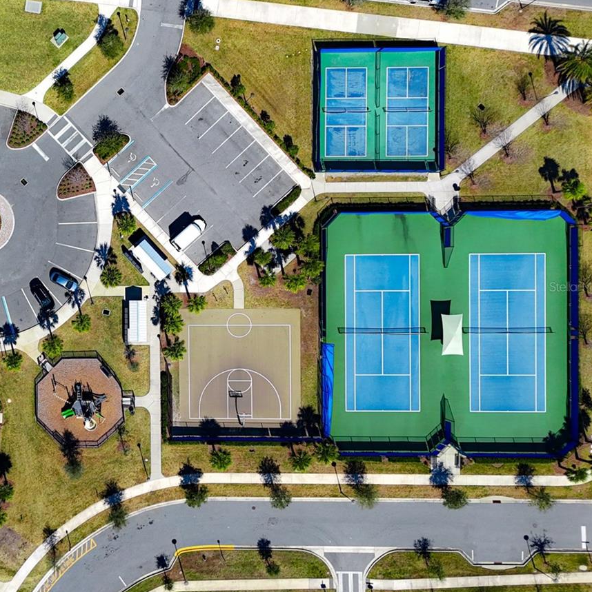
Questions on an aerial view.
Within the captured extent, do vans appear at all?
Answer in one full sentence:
Yes, there is a van in the image.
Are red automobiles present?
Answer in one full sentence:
No, there is no red automobile in the image.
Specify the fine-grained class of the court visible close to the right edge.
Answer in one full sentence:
The court visible close to the right edge can be classified as a tennis court.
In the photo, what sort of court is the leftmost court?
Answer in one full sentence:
The leftmost court can be classified as a basketball court.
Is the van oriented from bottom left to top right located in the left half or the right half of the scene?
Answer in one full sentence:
It is on the left.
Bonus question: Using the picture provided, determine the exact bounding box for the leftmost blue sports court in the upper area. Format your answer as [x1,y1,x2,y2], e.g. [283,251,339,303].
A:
[316,51,376,168]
